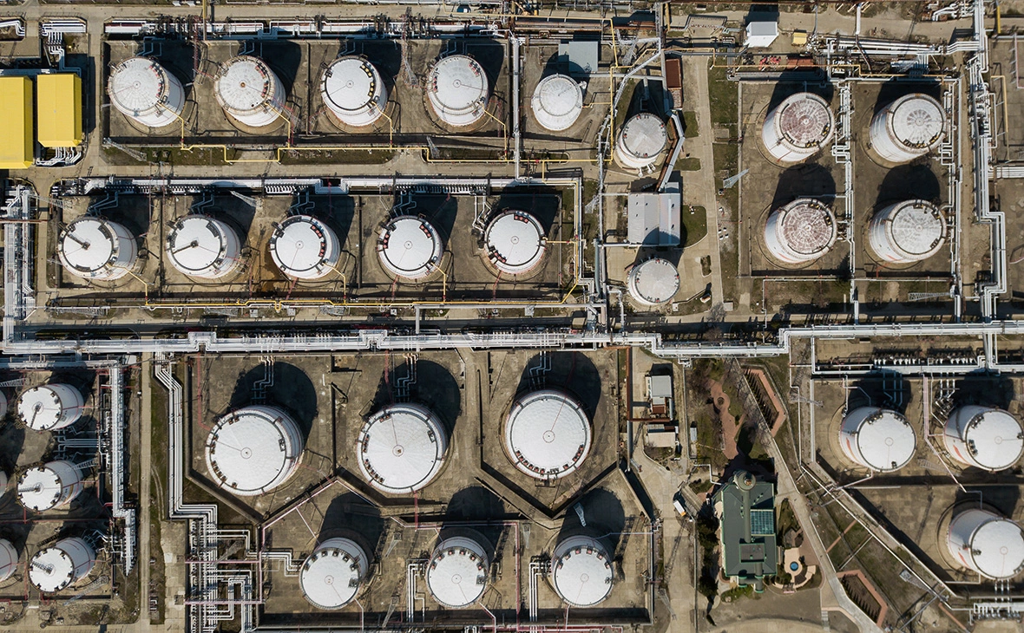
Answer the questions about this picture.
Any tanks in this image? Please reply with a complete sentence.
Yes, a tank can be made out from above.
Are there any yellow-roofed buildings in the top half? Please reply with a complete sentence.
Yes, a yellow-roofed building is visible in the top half.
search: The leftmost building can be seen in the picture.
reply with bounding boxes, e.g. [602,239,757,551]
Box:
[0,76,39,166]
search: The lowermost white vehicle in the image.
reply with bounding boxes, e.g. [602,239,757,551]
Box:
[673,501,686,517]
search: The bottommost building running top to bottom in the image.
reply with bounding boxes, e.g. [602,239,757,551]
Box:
[709,462,778,593]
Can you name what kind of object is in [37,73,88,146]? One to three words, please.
building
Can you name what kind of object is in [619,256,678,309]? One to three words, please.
storage tank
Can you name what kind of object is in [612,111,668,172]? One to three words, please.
storage tank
